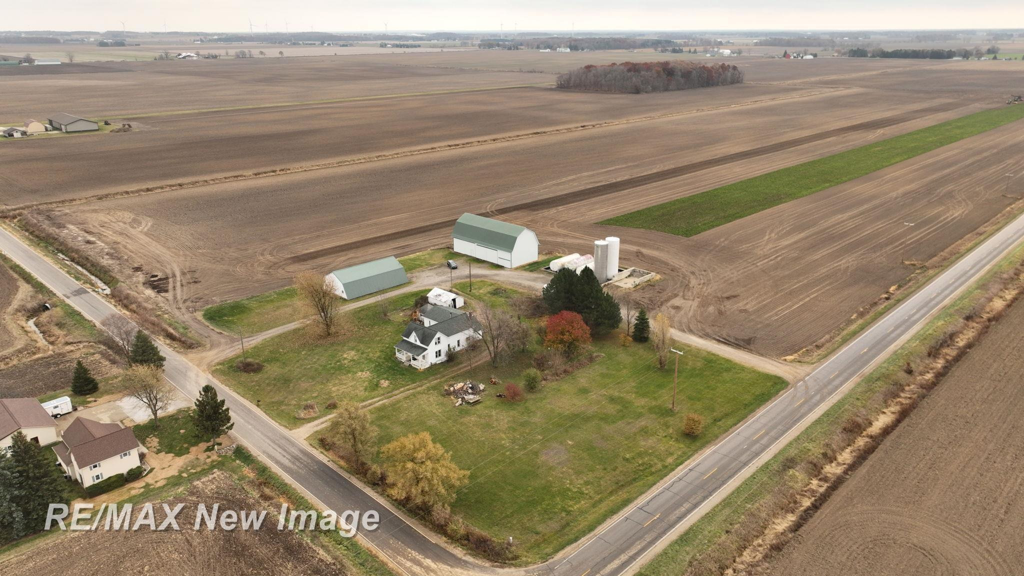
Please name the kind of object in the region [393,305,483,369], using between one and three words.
house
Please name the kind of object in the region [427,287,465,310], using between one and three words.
shed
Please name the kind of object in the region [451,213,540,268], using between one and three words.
barn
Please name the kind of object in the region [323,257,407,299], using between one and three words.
shed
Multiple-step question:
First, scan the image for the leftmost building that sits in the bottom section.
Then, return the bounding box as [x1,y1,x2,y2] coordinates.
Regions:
[0,397,59,460]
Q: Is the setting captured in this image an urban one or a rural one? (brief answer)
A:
rural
